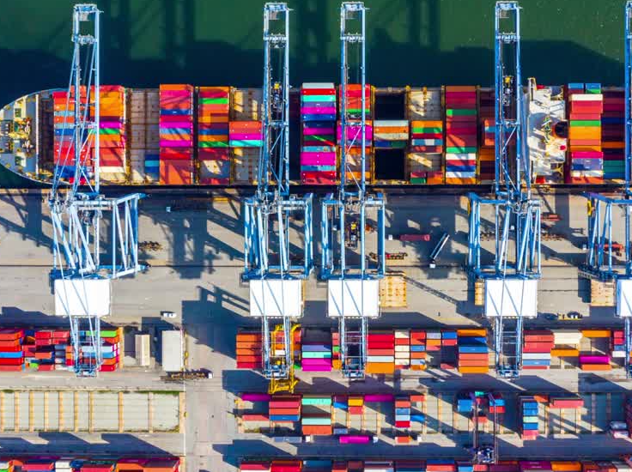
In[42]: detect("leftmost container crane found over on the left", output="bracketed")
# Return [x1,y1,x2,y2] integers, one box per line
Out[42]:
[45,3,158,380]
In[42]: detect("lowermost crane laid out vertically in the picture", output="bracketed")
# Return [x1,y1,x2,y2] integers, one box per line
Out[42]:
[464,390,499,470]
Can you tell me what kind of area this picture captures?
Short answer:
port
